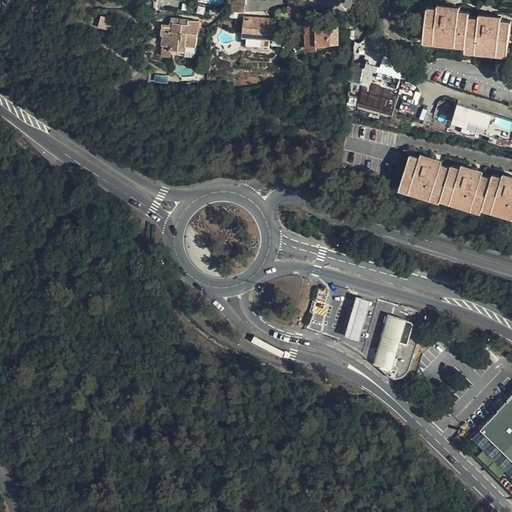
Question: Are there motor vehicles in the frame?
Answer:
Yes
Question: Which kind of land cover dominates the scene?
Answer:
trees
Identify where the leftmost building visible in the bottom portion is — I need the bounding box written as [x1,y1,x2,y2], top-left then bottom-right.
[345,296,372,342]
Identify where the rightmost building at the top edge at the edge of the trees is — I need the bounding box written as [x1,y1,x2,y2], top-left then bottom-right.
[420,6,512,60]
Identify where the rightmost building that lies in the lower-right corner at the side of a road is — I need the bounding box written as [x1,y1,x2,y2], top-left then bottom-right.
[472,395,512,483]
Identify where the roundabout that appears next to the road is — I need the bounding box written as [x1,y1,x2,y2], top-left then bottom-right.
[164,182,280,297]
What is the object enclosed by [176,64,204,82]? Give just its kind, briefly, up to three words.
swimming pool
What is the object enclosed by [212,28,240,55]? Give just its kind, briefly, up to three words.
swimming pool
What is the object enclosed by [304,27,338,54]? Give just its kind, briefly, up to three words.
house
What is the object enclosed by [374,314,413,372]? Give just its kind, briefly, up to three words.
building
